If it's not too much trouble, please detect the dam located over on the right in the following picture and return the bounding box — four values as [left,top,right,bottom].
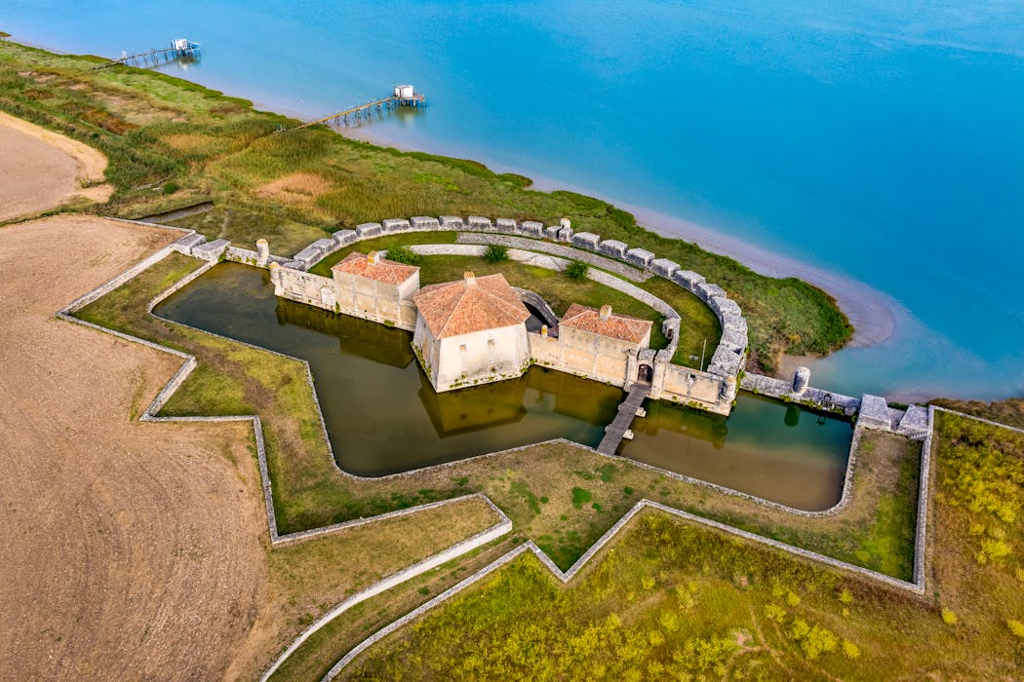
[745,373,862,418]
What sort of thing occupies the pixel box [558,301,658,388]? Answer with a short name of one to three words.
house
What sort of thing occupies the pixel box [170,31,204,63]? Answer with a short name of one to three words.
shed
